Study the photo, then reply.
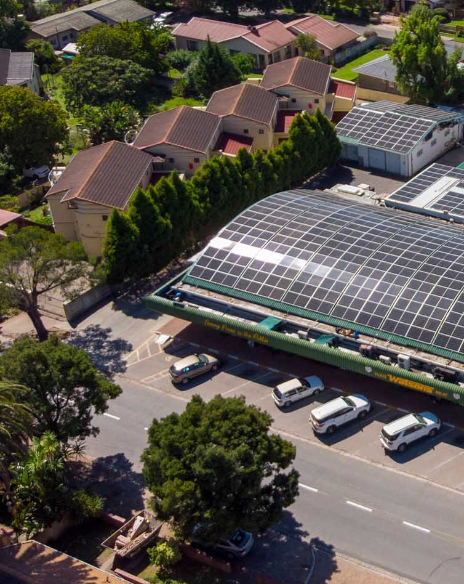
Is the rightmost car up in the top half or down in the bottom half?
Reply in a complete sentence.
The rightmost car is in the bottom half of the image.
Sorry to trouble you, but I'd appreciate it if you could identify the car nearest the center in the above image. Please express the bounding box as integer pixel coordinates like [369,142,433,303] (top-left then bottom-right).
[160,347,224,381]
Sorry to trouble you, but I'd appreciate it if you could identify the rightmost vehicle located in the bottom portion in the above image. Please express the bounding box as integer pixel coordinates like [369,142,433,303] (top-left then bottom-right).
[376,409,446,451]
